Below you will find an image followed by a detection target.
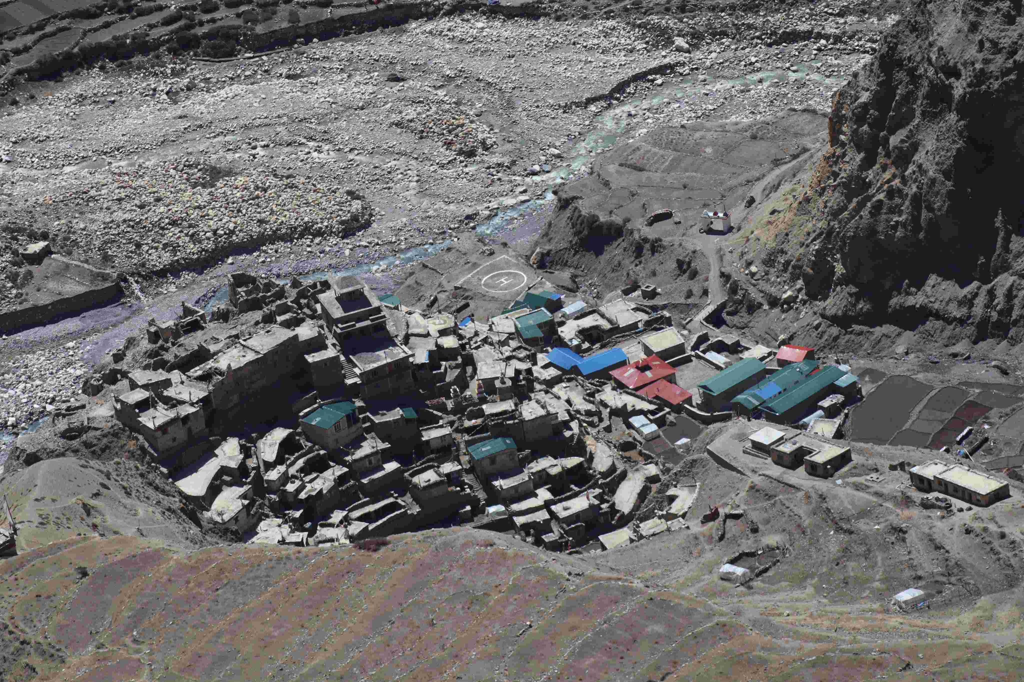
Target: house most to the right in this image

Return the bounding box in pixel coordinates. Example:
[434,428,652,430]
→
[934,463,1008,507]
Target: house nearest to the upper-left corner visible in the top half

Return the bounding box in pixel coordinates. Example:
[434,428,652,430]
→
[20,241,51,264]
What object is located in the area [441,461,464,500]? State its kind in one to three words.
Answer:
house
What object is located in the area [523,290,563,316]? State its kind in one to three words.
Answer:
shed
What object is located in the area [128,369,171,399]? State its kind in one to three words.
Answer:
house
